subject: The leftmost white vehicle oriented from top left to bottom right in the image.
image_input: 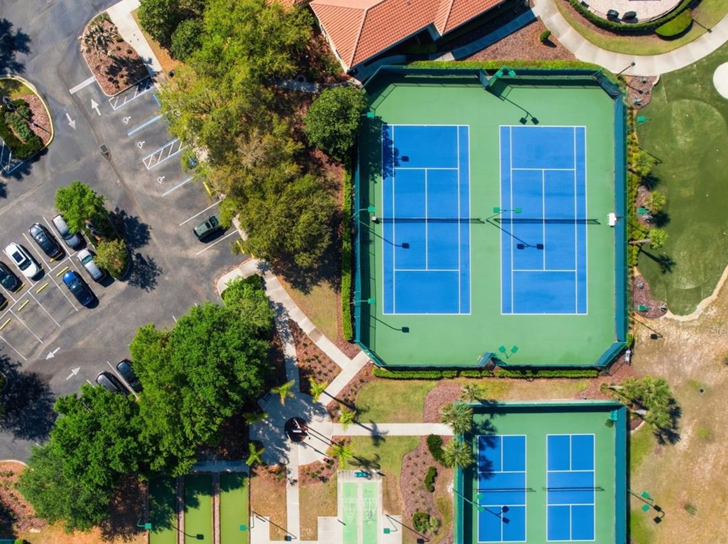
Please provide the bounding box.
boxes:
[7,242,40,280]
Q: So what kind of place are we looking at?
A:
sports ground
